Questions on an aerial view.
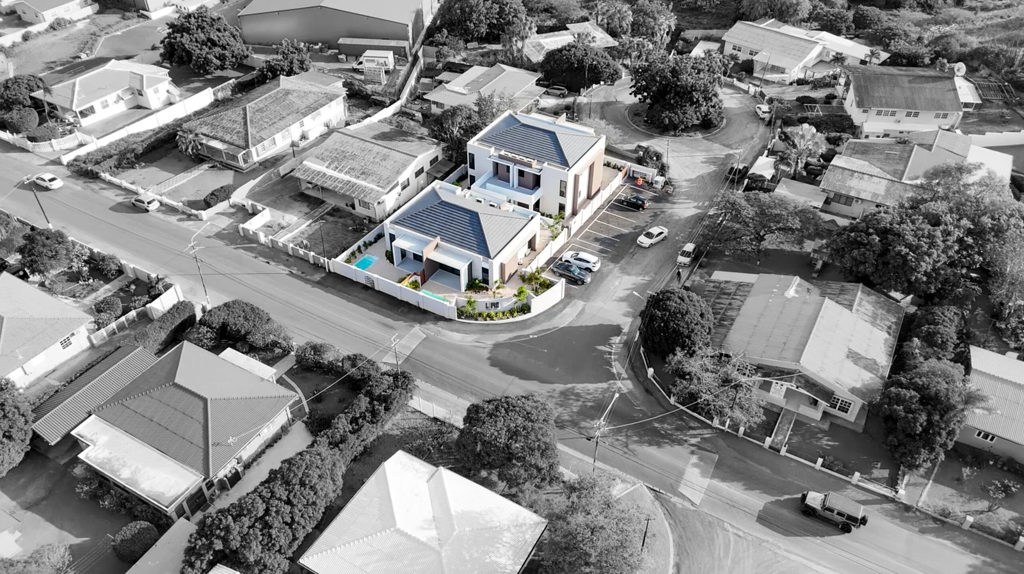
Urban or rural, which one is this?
urban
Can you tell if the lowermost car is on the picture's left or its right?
right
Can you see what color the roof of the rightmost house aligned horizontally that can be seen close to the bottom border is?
white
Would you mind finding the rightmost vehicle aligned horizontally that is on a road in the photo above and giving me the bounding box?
[800,490,869,530]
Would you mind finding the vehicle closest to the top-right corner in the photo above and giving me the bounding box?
[753,103,772,118]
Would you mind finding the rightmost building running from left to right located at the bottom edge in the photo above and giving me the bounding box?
[297,451,549,574]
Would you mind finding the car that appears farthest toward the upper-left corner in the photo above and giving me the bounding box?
[30,171,63,189]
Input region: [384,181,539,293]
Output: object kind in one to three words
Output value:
house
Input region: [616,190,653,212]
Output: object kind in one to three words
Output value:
car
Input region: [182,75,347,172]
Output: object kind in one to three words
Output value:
house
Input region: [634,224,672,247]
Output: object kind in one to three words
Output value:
car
